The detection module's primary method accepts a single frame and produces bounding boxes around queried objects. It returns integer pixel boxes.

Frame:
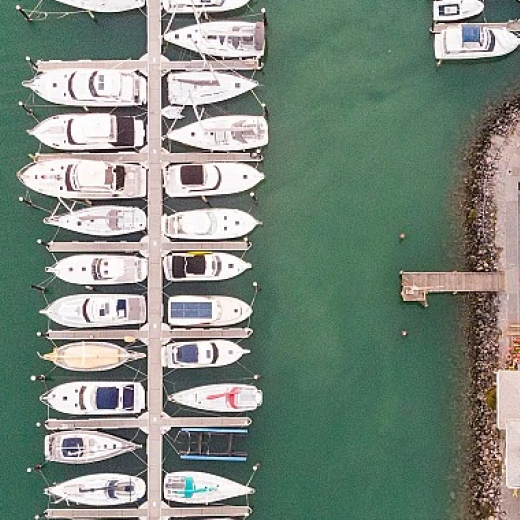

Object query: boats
[26,202,148,243]
[161,380,263,413]
[161,95,269,152]
[33,428,147,470]
[36,288,148,335]
[432,0,485,23]
[161,154,266,205]
[32,470,147,517]
[14,155,150,206]
[20,62,149,116]
[38,245,148,292]
[161,290,254,332]
[161,240,253,289]
[56,0,147,23]
[37,376,147,426]
[161,200,263,247]
[161,332,251,375]
[23,107,148,158]
[162,106,183,120]
[434,26,520,60]
[161,37,261,112]
[37,335,147,377]
[161,464,255,509]
[161,0,266,57]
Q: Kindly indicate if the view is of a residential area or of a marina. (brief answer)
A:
marina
